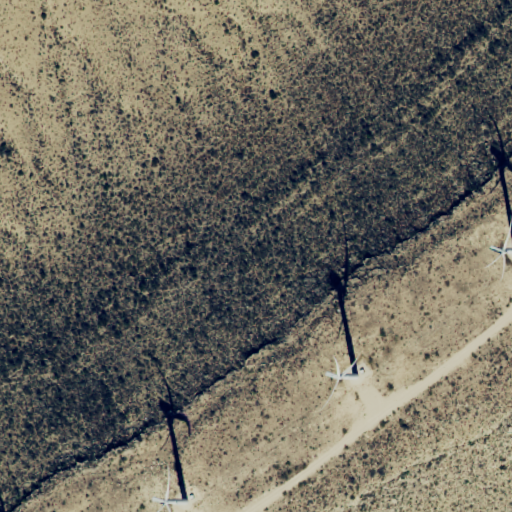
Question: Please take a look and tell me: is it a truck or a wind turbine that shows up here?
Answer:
wind turbine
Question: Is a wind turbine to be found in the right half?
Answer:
Yes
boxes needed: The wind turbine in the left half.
[150,467,192,512]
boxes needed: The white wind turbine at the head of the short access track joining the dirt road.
[316,356,362,410]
